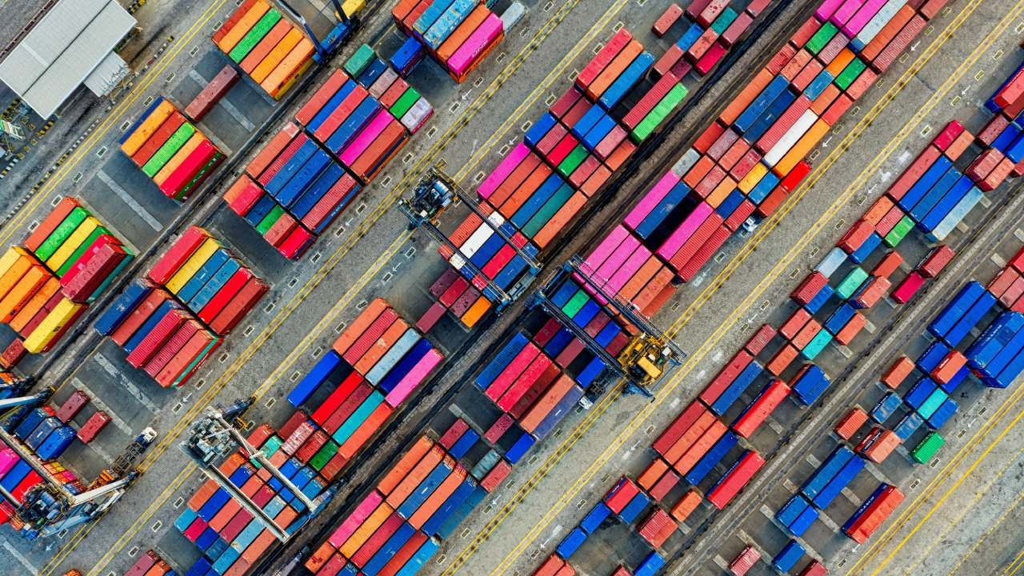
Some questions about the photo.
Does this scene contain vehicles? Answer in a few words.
Yes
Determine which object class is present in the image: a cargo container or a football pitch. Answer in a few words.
cargo container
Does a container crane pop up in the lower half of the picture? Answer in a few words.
Yes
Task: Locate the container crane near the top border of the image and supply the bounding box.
[278,0,359,63]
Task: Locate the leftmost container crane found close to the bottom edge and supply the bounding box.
[0,381,149,549]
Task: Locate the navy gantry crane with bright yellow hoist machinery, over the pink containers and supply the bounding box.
[525,251,695,405]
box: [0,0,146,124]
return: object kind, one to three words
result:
warehouse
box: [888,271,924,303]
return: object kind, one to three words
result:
shipping container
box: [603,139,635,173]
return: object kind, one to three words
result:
shipping container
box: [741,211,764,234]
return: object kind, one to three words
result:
truck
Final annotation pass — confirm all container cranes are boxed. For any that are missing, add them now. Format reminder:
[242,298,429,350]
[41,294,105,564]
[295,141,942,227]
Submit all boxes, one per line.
[0,381,149,549]
[169,386,352,545]
[278,0,359,63]
[389,159,547,314]
[525,251,695,405]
